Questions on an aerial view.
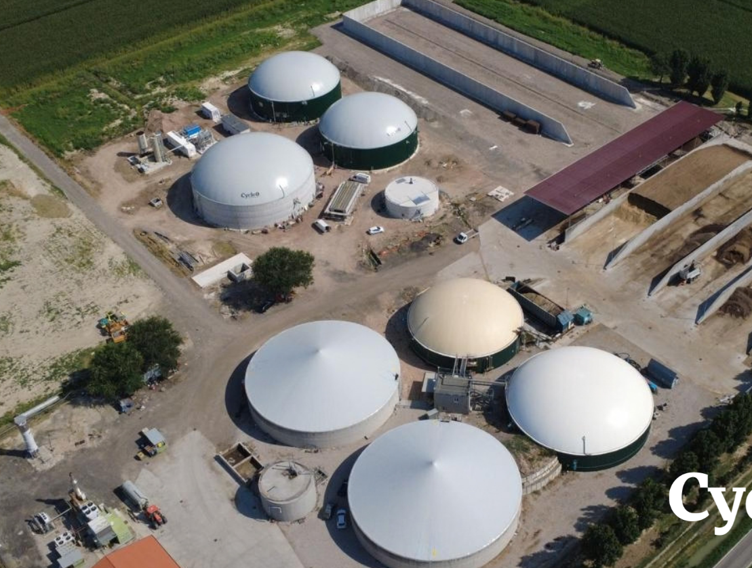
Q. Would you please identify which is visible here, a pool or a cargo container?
cargo container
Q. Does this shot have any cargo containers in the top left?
Yes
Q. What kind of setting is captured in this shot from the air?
industrial area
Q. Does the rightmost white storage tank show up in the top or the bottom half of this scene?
bottom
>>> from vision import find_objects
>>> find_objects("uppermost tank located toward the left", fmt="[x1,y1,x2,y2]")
[248,50,347,123]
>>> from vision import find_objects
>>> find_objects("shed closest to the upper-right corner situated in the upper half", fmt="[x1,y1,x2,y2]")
[523,100,725,229]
